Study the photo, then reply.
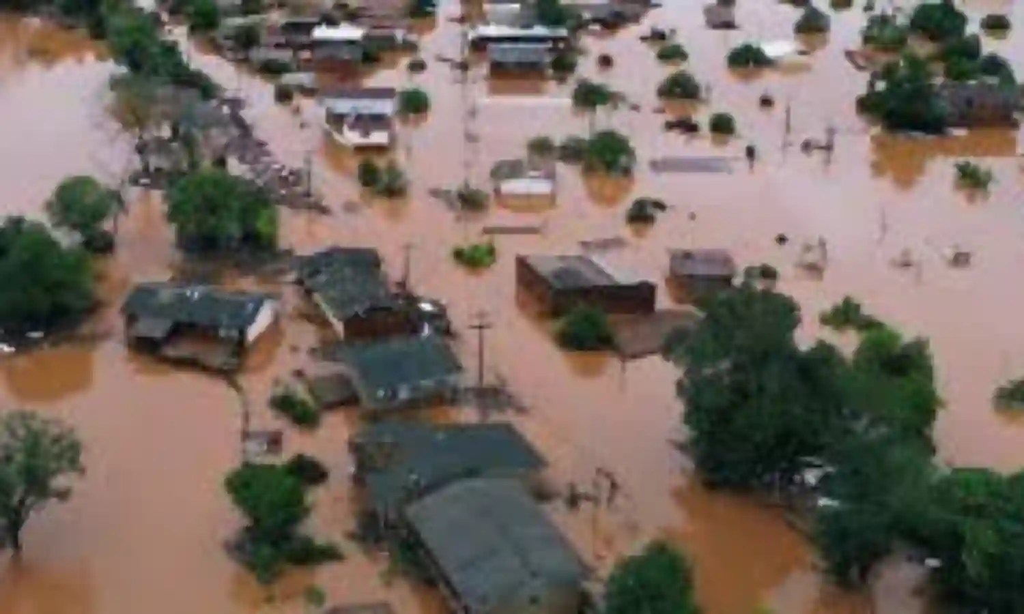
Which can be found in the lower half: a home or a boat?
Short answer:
home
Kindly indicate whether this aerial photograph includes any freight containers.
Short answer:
No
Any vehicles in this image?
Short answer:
No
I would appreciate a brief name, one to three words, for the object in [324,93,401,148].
house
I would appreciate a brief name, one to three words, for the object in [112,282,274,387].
house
